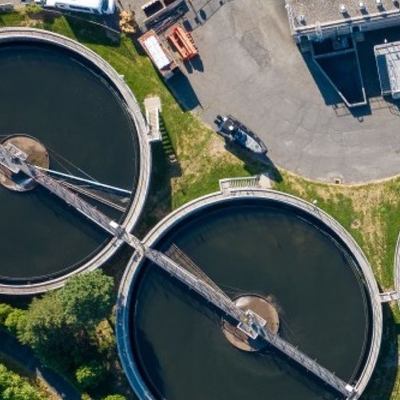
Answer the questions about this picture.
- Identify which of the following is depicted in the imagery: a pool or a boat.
boat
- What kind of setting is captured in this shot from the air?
industrial area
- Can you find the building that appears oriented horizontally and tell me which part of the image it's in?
top right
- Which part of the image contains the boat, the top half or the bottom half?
top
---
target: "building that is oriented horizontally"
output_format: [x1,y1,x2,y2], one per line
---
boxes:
[286,0,400,51]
